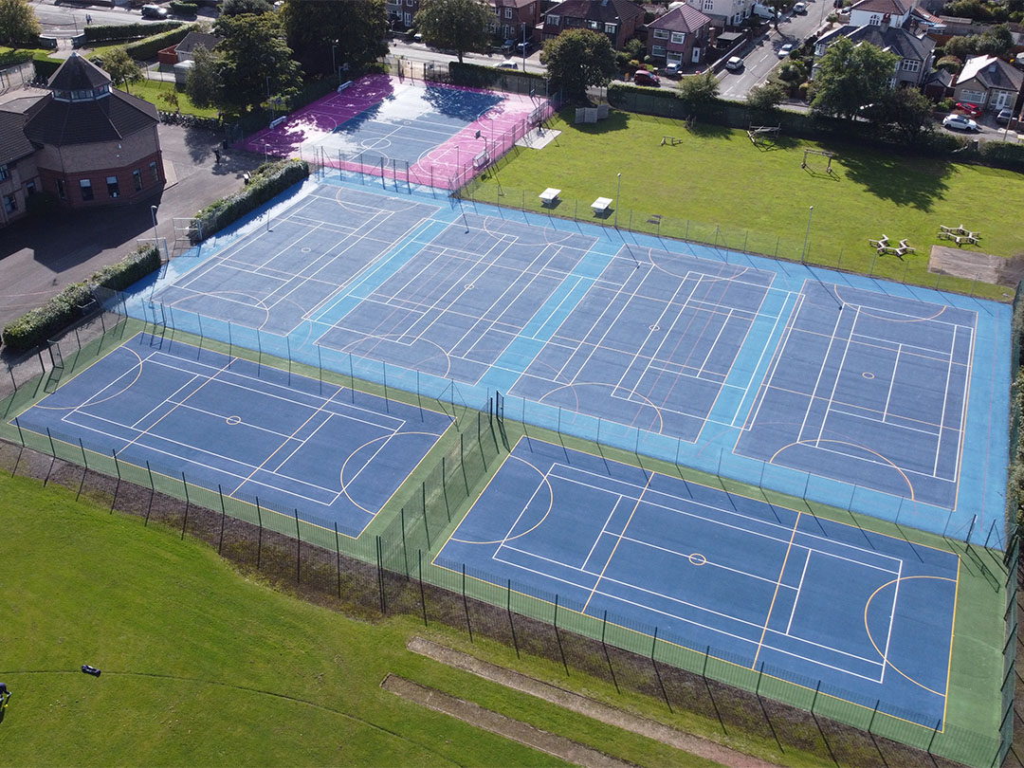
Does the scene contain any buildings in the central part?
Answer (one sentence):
No, no building is visible in the central part.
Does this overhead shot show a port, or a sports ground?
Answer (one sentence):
It's a sports ground.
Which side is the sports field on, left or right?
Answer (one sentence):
You can find the sports field on the right side of the picture.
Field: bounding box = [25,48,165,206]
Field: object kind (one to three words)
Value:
building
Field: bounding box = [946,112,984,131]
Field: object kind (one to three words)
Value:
car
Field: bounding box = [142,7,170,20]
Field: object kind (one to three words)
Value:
vehicle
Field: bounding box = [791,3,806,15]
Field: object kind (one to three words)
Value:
vehicle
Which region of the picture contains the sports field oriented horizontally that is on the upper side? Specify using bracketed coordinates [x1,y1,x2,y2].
[456,97,1024,301]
